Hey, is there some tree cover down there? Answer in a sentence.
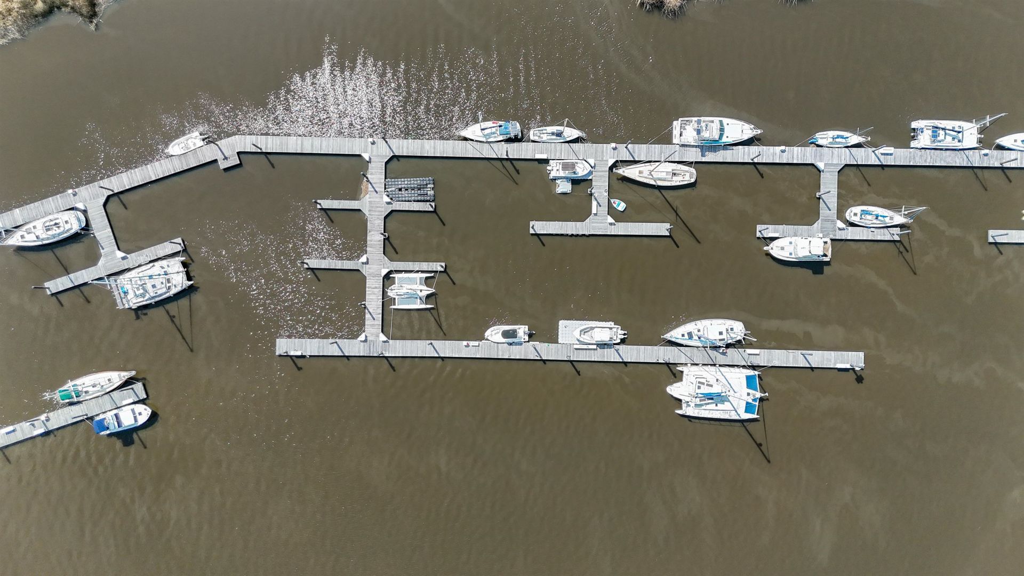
No, the scene doesn't show any tree cover.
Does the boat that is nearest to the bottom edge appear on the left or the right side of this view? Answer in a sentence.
The boat that is nearest to the bottom edge is on the left side of the image.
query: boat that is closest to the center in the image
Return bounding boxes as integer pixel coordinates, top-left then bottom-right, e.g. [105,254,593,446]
[485,326,532,343]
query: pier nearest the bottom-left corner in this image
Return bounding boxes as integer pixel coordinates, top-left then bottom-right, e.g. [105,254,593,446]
[0,382,148,447]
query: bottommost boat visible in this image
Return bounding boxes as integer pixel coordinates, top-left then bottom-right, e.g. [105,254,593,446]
[93,405,153,435]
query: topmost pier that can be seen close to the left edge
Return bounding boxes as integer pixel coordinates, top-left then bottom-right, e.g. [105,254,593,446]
[0,136,242,232]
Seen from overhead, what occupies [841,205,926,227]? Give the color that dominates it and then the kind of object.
white boat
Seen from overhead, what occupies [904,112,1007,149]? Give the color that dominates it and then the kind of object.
white boat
